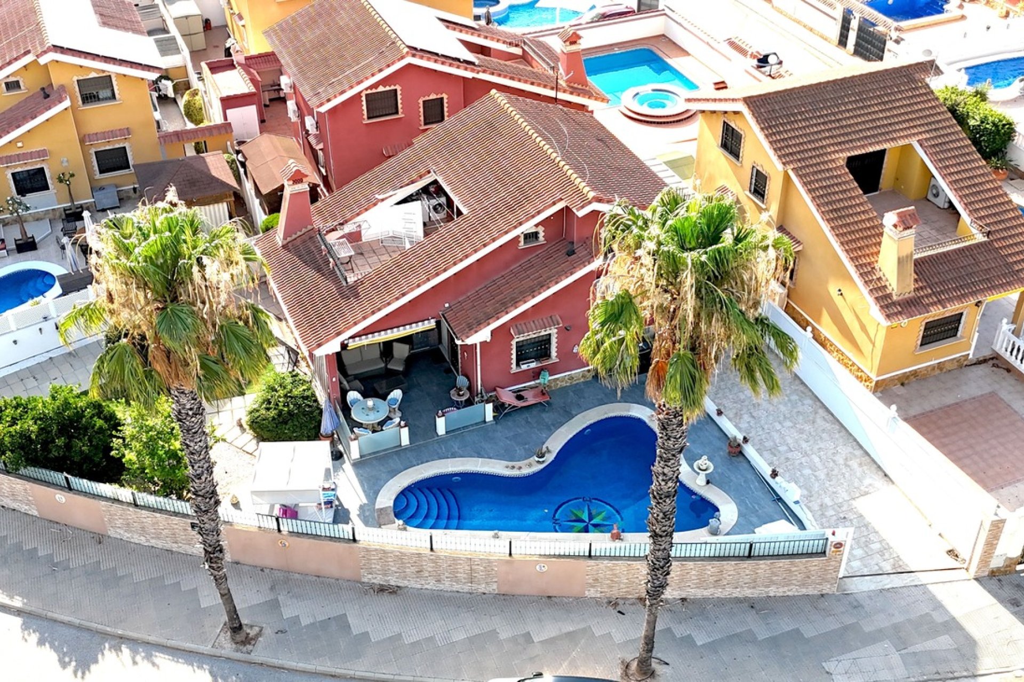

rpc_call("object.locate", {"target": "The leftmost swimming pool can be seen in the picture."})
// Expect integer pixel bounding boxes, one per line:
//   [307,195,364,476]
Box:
[0,260,71,323]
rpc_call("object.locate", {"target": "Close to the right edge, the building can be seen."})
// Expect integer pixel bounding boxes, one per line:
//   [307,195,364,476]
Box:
[675,39,1024,393]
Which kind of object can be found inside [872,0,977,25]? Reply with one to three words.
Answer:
swimming pool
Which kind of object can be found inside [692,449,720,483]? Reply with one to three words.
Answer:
fountain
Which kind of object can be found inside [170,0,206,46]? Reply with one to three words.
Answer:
shed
